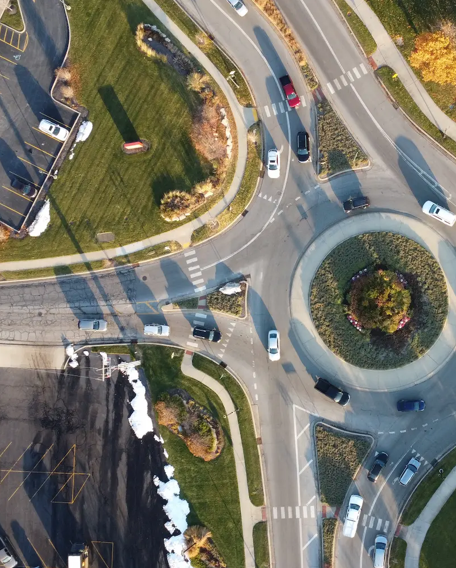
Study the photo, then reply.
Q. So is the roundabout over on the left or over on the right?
right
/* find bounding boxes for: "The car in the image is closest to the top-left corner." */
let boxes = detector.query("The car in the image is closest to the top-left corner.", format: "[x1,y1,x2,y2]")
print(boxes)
[37,118,72,141]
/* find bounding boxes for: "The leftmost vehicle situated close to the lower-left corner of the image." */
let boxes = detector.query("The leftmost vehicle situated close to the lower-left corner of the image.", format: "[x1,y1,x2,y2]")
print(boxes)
[0,533,19,568]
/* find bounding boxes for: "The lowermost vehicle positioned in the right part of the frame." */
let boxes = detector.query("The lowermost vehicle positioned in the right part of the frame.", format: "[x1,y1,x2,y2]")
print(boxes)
[373,533,389,568]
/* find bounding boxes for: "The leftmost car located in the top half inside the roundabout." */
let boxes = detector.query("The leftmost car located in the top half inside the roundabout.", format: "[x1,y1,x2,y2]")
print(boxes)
[342,196,371,212]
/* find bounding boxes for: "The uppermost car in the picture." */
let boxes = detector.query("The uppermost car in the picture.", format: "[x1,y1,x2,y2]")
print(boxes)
[226,0,249,19]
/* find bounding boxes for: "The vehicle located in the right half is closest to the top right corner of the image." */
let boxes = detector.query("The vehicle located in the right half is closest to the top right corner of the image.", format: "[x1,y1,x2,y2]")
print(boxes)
[278,74,302,111]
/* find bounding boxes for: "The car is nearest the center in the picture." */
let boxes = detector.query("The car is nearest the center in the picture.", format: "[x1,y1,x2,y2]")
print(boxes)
[191,325,224,343]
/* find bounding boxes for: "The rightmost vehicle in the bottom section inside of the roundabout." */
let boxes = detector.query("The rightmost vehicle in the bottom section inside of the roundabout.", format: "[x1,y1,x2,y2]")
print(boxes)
[396,399,425,413]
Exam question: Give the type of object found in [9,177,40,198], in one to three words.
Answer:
car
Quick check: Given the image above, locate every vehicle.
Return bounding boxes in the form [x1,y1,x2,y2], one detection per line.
[37,118,72,141]
[295,132,311,164]
[0,533,19,568]
[266,149,282,180]
[313,377,352,406]
[68,535,91,568]
[142,322,171,337]
[191,325,224,343]
[421,202,456,227]
[396,399,425,413]
[9,177,40,198]
[78,317,108,333]
[373,533,389,568]
[396,454,421,487]
[266,330,282,361]
[342,196,371,212]
[344,492,362,538]
[366,450,389,483]
[278,74,302,111]
[226,0,249,19]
